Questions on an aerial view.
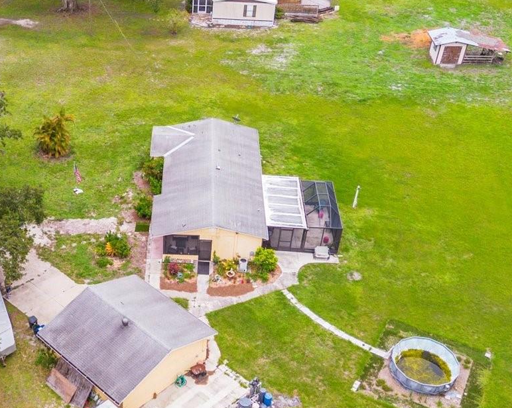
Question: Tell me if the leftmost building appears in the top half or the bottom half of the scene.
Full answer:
You can find the leftmost building in the bottom half.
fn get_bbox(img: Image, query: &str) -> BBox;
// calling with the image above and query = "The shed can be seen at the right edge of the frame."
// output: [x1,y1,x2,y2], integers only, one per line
[427,25,504,67]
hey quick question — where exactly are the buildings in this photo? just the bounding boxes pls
[36,273,217,408]
[192,0,279,26]
[427,25,504,67]
[149,116,308,262]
